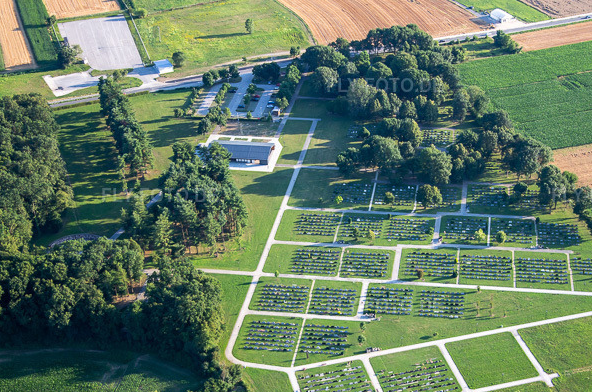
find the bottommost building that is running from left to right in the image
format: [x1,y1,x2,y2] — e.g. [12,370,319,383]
[213,135,276,165]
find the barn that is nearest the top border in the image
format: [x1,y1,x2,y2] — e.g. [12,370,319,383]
[484,8,517,26]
